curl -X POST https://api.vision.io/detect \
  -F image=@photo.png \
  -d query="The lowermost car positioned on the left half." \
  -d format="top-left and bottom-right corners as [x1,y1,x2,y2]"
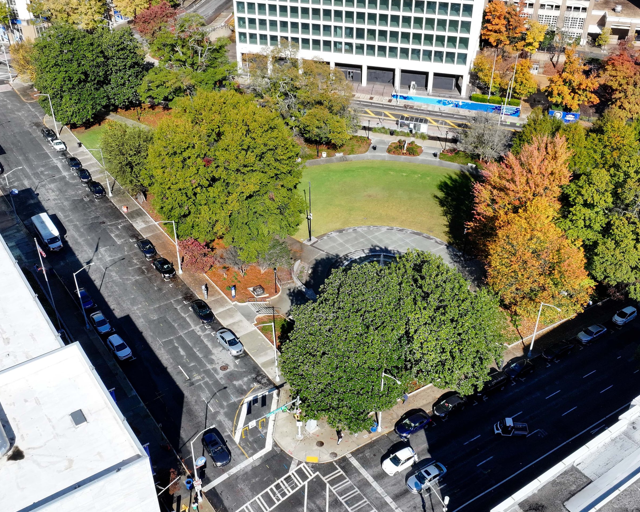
[199,429,235,469]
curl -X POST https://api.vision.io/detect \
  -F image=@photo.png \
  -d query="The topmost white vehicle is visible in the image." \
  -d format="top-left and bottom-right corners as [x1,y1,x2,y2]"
[50,139,67,154]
